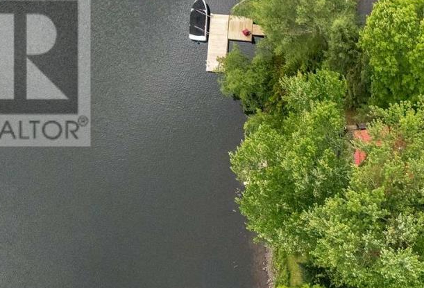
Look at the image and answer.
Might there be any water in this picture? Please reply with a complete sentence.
Yes, water shows up in the scene.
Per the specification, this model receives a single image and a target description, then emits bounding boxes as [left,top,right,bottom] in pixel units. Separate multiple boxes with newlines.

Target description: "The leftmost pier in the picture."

[207,13,230,71]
